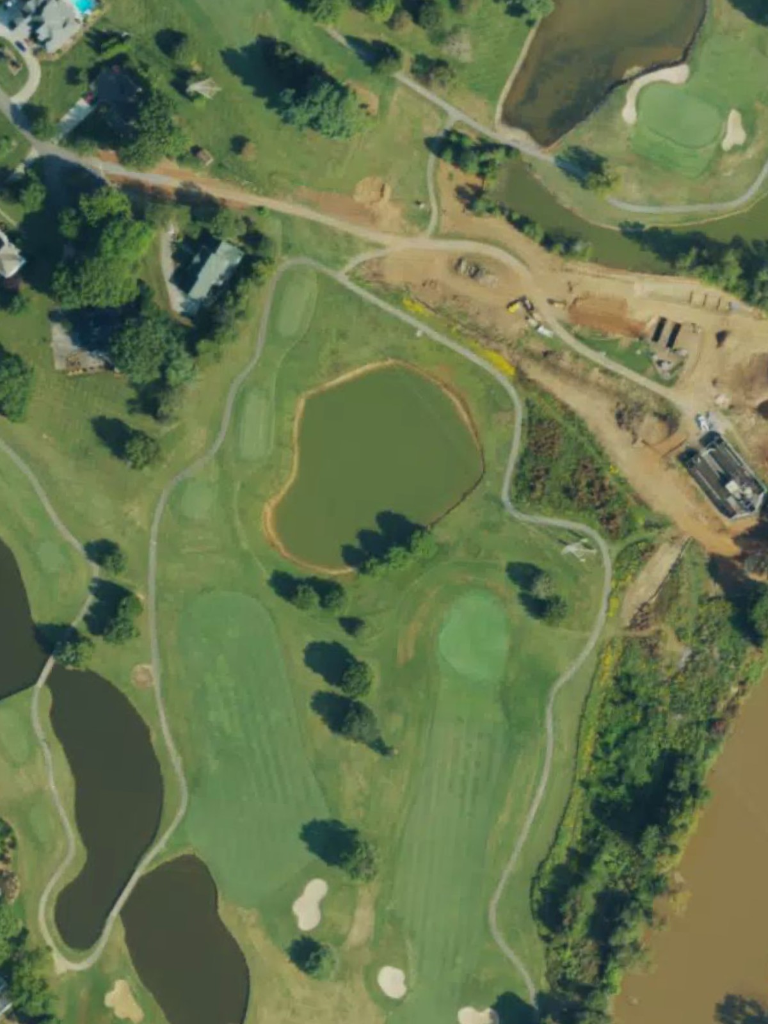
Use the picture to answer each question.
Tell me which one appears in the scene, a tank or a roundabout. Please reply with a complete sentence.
This aerial view contains a tank.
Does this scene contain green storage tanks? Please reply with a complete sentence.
No, there appears to be no green storage tank in this shot.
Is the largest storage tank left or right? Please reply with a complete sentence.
You can find the largest storage tank on the right side of the picture.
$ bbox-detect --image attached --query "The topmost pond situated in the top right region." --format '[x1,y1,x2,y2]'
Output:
[502,0,705,147]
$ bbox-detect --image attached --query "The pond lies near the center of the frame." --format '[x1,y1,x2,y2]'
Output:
[271,363,483,570]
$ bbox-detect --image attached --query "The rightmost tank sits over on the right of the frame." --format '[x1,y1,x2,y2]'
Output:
[683,433,765,520]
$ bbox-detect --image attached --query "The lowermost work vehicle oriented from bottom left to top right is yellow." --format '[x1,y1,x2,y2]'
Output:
[507,299,528,314]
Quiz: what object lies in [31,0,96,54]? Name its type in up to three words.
house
